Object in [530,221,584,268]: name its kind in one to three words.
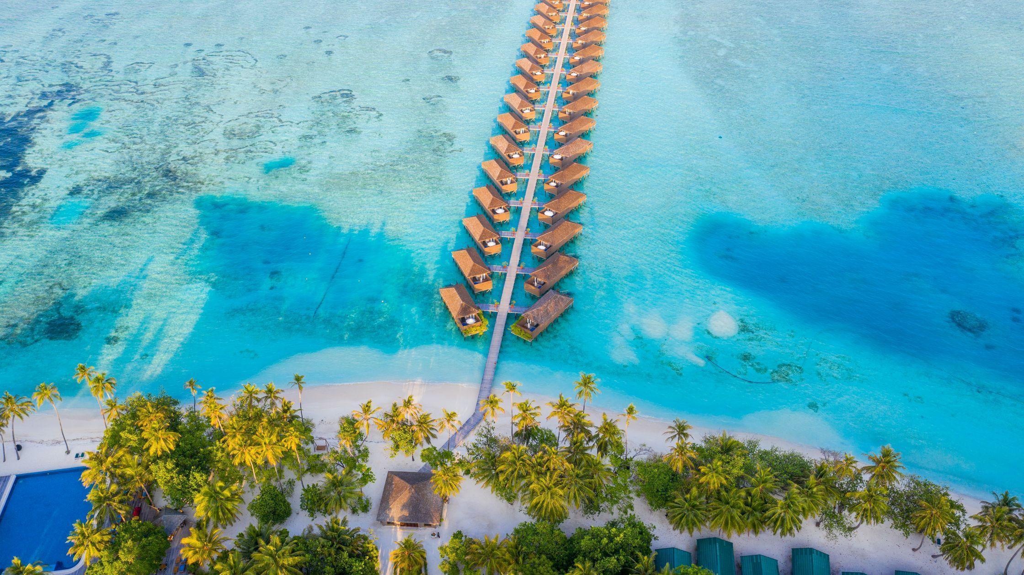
house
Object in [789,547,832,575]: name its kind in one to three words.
shed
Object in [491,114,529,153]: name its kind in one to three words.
house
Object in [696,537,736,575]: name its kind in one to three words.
shed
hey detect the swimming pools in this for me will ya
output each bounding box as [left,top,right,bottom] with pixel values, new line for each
[0,465,108,575]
